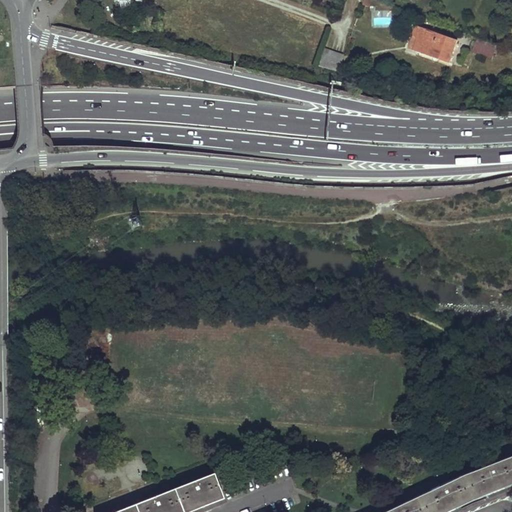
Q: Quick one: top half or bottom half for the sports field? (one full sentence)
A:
You can find the sports field in the bottom half.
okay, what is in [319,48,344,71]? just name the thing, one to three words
shed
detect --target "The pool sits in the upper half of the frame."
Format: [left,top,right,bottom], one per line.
[371,10,392,28]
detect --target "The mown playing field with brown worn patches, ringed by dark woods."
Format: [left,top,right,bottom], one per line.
[109,322,404,442]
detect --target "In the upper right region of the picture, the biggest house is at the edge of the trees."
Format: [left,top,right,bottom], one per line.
[406,28,456,66]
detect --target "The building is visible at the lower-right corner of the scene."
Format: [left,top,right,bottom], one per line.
[386,456,512,512]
